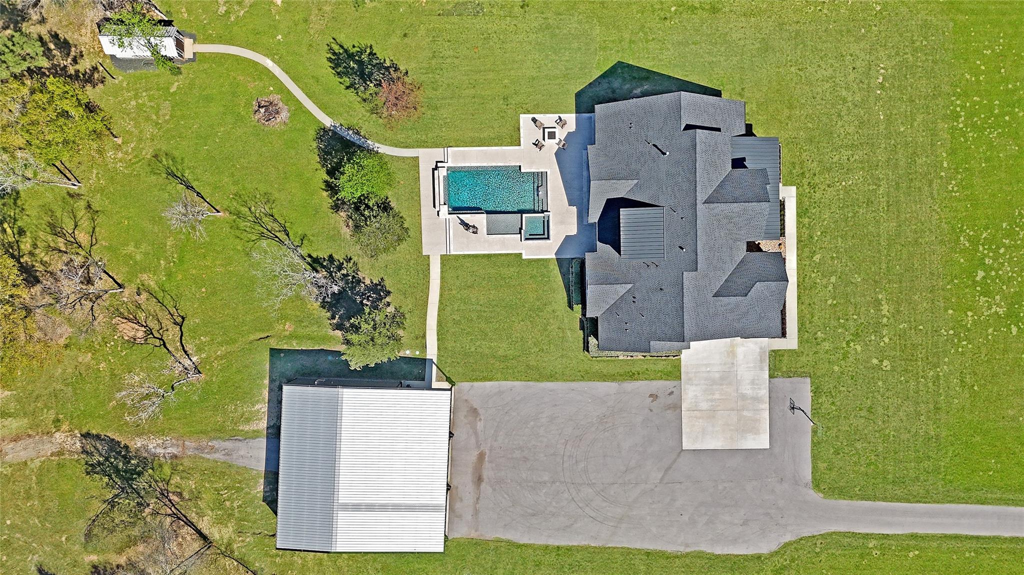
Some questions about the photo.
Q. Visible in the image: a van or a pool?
pool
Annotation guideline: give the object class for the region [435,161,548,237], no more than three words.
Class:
swimming pool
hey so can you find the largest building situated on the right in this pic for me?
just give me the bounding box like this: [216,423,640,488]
[585,92,789,352]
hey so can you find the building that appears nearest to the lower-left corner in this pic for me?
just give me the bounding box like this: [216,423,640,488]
[276,378,453,557]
